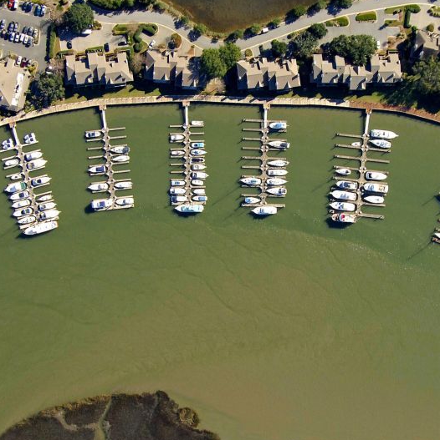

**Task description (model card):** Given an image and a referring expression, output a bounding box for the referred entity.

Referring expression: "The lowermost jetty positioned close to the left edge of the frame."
[1,122,56,228]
